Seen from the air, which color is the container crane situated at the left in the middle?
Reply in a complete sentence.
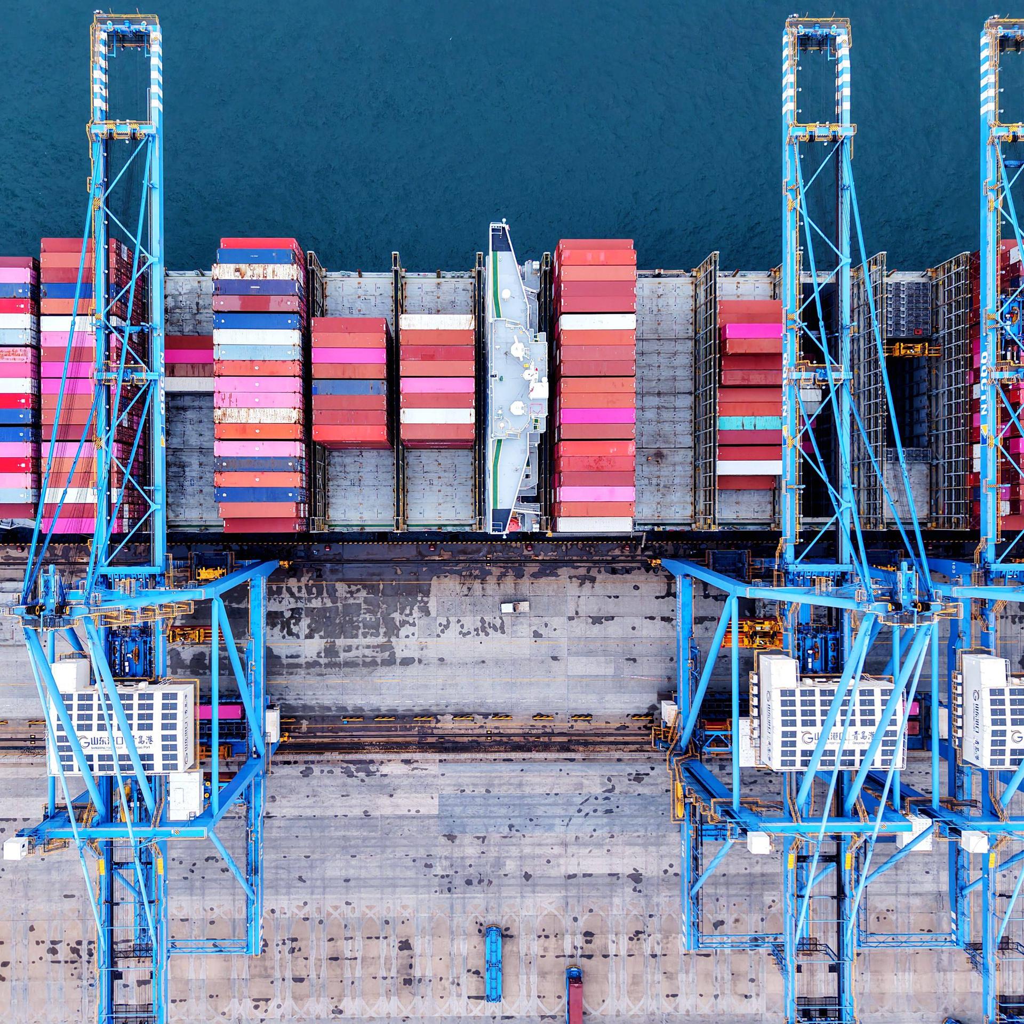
From above, the container crane situated at the left in the middle appears blue.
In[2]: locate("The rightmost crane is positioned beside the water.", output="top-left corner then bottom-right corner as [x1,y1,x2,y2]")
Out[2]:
[799,0,1024,1024]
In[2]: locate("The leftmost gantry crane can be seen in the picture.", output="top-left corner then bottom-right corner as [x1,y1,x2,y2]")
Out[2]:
[0,0,288,1024]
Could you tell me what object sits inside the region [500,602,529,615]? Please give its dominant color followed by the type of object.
white vehicle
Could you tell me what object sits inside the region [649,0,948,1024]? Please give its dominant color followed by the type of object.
blue container crane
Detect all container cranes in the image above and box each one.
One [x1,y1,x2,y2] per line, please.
[649,0,948,1024]
[799,0,1024,1024]
[0,0,288,1024]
